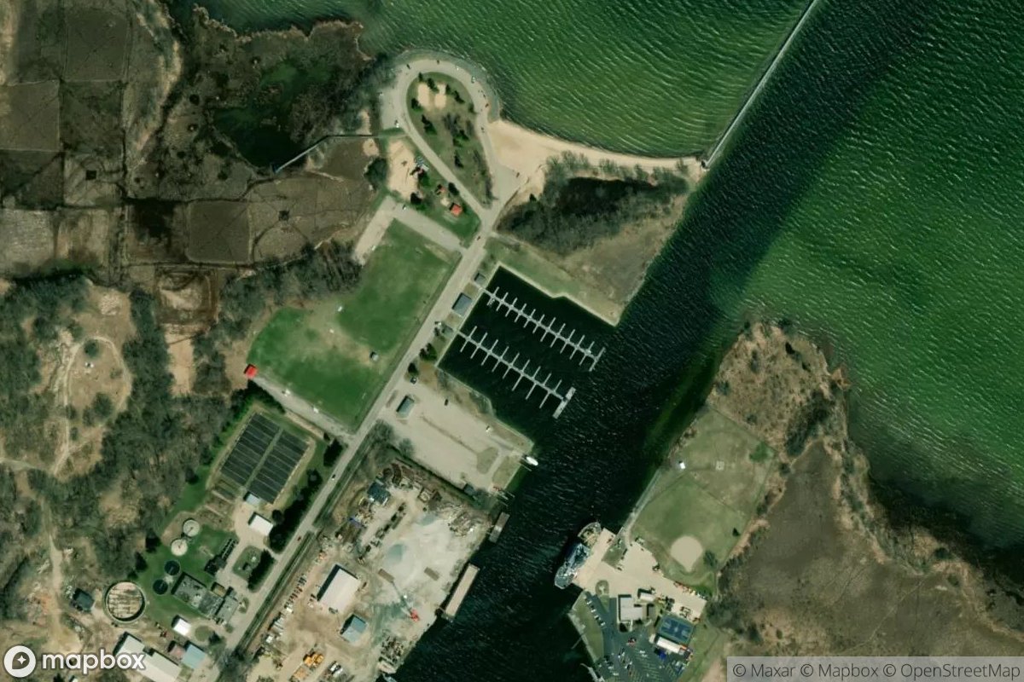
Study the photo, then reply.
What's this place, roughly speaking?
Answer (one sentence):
This looks like a port.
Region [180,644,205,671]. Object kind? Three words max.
building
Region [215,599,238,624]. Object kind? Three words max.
building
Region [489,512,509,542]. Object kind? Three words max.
ship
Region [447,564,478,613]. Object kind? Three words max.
ship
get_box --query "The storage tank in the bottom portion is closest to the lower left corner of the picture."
[104,582,145,623]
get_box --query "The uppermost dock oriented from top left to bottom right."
[484,286,605,371]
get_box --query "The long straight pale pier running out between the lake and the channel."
[706,0,815,168]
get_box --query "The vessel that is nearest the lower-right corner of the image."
[555,522,601,589]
